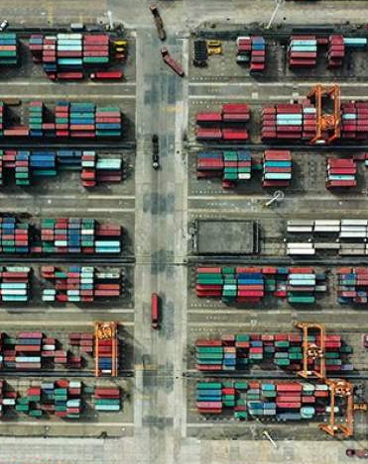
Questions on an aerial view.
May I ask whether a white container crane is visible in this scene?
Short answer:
No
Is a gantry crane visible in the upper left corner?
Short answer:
No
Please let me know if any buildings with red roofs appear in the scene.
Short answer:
No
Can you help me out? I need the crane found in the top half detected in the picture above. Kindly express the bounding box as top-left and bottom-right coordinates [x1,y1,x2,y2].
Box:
[301,85,340,148]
